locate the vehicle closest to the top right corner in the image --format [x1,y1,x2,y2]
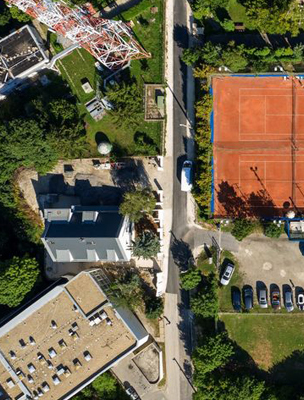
[181,161,194,190]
